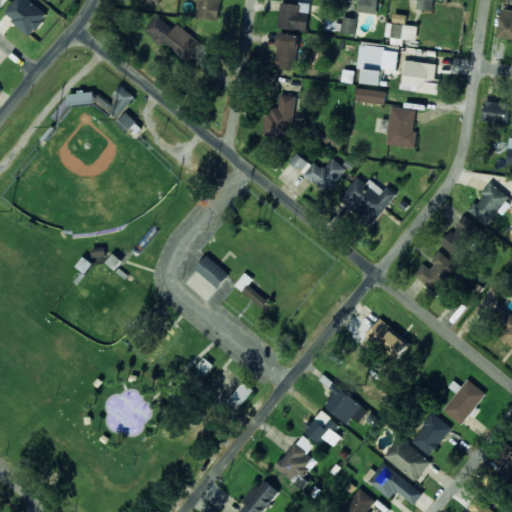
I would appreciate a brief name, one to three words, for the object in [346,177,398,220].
house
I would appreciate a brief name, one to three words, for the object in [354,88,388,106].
house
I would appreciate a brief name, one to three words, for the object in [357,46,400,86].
building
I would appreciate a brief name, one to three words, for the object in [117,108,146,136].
building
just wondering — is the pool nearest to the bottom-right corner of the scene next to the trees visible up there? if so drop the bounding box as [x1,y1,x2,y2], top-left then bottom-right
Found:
[378,432,394,452]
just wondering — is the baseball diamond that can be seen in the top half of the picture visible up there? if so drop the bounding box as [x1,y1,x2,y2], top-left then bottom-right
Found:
[60,114,116,176]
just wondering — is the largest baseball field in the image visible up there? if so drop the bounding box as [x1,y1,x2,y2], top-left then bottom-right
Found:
[52,266,132,342]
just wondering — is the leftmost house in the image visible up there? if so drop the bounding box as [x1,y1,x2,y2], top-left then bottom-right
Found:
[4,0,48,34]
